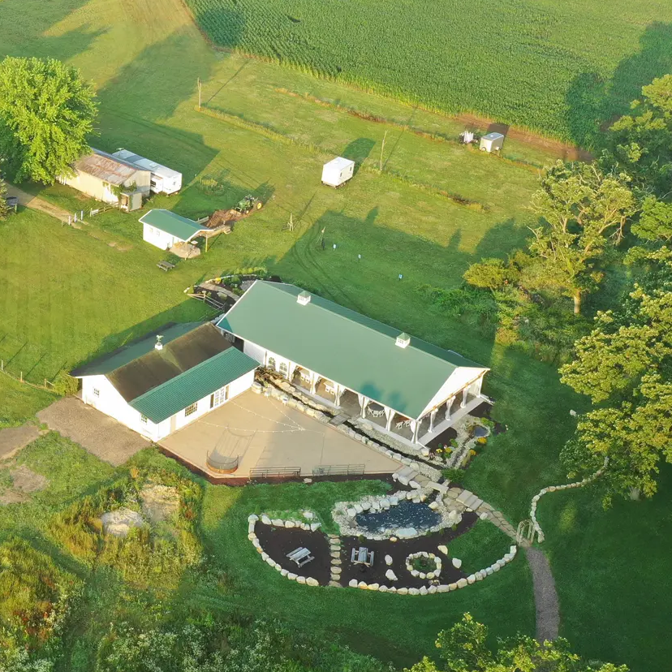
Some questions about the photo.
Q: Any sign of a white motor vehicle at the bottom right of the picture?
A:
No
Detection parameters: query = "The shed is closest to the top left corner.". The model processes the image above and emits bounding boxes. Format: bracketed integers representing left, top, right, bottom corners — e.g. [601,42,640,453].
[61,147,147,209]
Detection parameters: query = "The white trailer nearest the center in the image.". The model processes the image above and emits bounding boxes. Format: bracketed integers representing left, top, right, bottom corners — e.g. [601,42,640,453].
[321,156,353,186]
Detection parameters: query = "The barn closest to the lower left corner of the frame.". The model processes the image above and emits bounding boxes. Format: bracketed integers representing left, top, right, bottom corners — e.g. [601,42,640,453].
[71,320,259,442]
